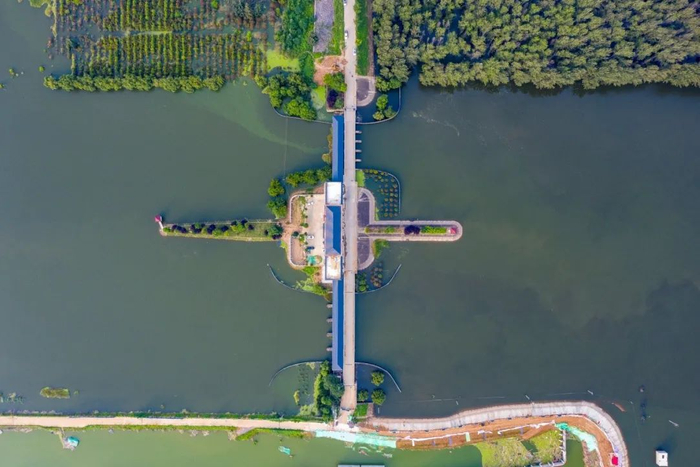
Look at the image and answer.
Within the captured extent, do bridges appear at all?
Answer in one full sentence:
Yes, the photo shows a bridge.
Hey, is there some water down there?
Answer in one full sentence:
Yes, water shows up in the scene.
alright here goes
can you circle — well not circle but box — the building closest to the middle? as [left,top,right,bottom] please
[323,180,344,282]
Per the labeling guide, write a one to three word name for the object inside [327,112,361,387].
bridge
